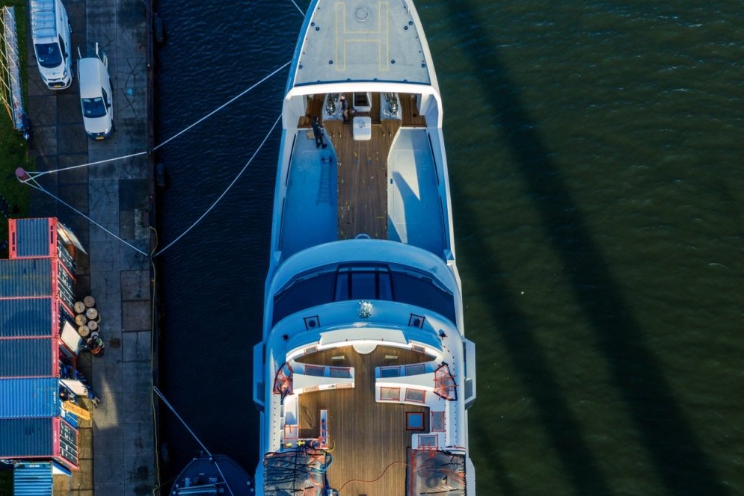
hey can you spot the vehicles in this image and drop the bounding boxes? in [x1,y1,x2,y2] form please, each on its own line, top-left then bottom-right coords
[73,35,118,136]
[29,0,75,84]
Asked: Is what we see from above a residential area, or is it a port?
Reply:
port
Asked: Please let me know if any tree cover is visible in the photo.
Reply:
No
